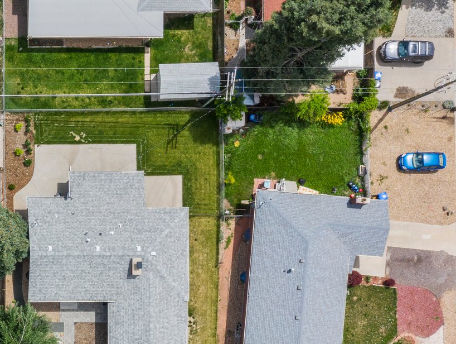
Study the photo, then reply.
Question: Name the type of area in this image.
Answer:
residential area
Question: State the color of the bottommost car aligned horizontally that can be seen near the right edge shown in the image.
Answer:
blue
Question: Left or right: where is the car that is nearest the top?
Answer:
right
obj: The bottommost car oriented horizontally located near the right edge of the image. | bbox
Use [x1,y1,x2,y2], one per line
[395,149,446,173]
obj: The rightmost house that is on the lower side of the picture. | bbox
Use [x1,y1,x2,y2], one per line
[239,189,391,344]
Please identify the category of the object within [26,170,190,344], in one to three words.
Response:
house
